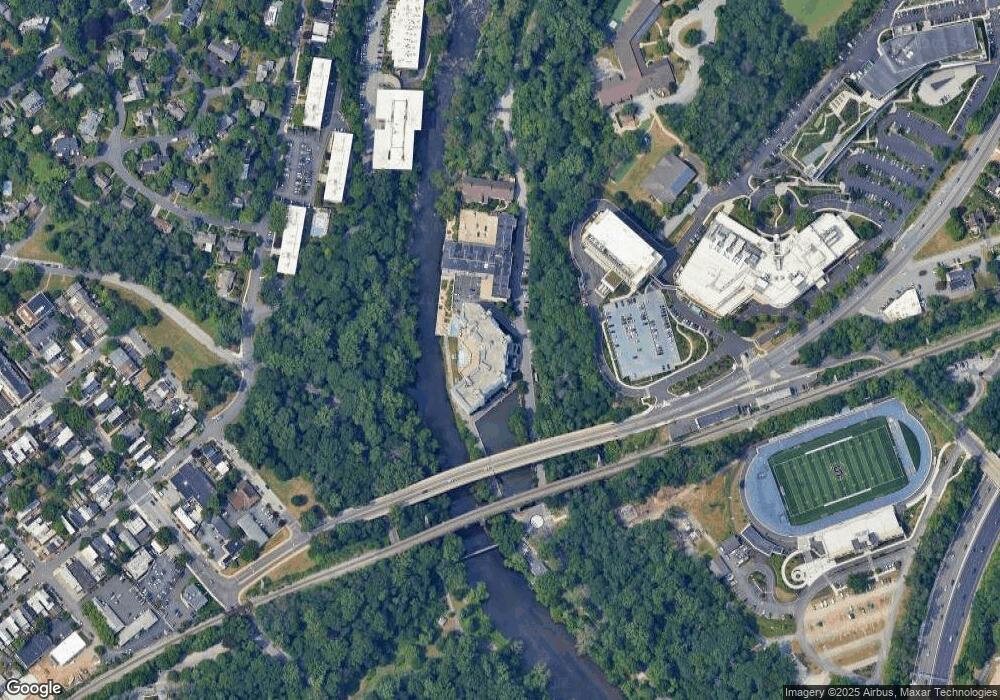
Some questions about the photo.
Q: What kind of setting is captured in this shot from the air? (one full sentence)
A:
What you see here is a residential area.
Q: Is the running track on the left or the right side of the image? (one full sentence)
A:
It is on the right.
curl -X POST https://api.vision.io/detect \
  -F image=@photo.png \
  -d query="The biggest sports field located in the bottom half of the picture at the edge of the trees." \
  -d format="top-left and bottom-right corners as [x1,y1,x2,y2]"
[770,418,908,522]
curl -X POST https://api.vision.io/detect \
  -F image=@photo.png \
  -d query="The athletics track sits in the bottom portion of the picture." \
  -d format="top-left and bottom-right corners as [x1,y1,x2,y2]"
[744,396,934,537]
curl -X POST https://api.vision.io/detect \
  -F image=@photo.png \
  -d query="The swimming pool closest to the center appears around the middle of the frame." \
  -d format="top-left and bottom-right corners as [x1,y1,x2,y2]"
[448,315,462,337]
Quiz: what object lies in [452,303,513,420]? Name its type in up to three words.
building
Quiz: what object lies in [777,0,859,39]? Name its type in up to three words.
sports field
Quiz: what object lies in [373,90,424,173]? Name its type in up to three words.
building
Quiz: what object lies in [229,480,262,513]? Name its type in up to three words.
house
